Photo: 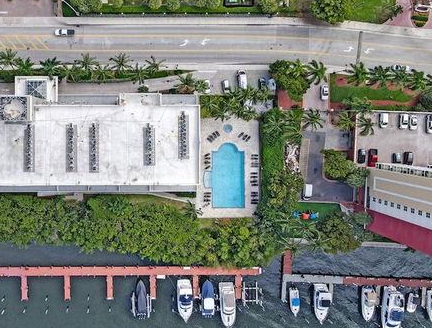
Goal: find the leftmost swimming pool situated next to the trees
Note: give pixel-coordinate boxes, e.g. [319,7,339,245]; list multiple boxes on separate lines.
[195,118,259,217]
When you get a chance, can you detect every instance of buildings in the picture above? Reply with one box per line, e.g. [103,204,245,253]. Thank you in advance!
[358,166,432,254]
[0,75,200,194]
